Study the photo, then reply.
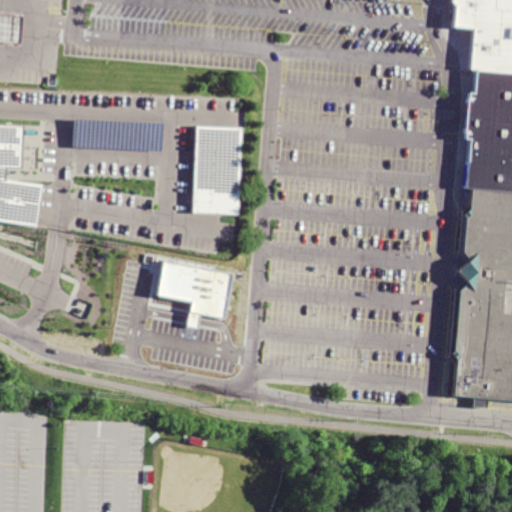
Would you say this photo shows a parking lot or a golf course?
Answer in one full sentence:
This image shows a parking lot.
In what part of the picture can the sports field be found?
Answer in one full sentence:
The sports field is located in the bottom region of the scene.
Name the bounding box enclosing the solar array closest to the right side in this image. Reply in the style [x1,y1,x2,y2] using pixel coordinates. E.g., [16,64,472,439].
[198,130,239,192]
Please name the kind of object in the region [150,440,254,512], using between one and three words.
sports field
